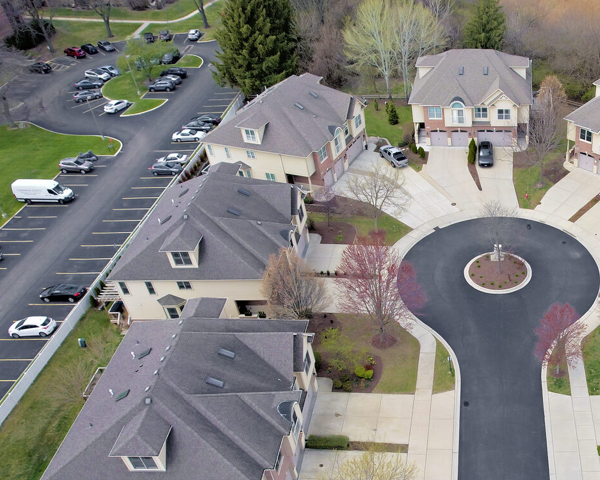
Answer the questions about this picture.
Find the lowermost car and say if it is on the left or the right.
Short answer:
left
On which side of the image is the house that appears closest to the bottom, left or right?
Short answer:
left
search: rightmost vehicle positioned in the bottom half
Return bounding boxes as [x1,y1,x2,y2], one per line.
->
[33,281,87,302]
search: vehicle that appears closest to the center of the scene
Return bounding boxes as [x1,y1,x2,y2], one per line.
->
[380,145,408,164]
